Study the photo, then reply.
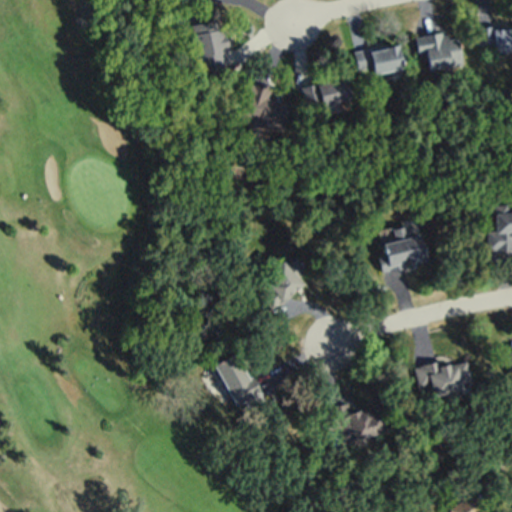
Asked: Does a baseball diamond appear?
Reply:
No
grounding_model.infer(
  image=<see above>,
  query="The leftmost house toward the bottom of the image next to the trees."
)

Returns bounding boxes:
[214,361,266,411]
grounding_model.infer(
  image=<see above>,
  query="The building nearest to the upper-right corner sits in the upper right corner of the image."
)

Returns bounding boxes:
[480,27,512,56]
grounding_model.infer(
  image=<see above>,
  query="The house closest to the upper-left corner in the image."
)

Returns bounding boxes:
[192,20,232,64]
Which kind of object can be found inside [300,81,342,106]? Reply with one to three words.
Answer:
house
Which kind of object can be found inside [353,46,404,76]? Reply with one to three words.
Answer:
house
